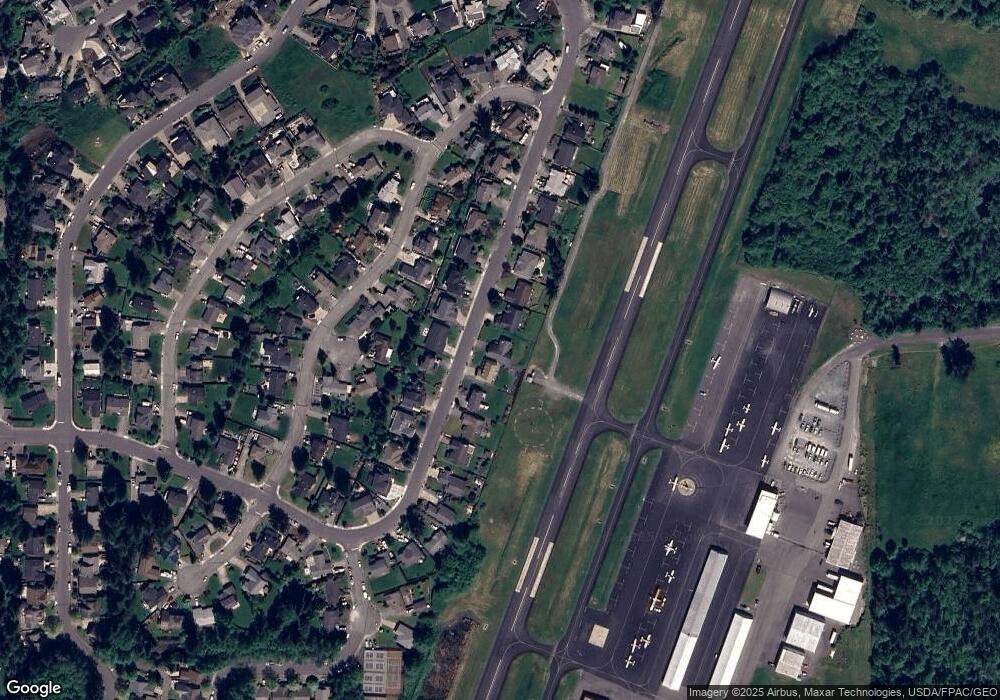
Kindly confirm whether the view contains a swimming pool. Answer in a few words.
No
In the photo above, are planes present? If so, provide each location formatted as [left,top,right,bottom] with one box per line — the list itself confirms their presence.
[633,638,642,652]
[762,454,771,468]
[669,476,679,491]
[641,634,650,648]
[627,654,636,669]
[727,423,735,437]
[667,540,677,556]
[711,357,722,370]
[736,419,745,432]
[651,590,663,608]
[743,401,751,415]
[666,569,674,583]
[720,438,730,454]
[772,421,781,435]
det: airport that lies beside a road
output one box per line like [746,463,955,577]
[415,0,862,700]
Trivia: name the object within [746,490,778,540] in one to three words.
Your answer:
hangar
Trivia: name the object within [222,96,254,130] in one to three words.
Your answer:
house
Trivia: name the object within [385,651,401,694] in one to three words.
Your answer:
tennis court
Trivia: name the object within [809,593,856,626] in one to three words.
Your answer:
building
